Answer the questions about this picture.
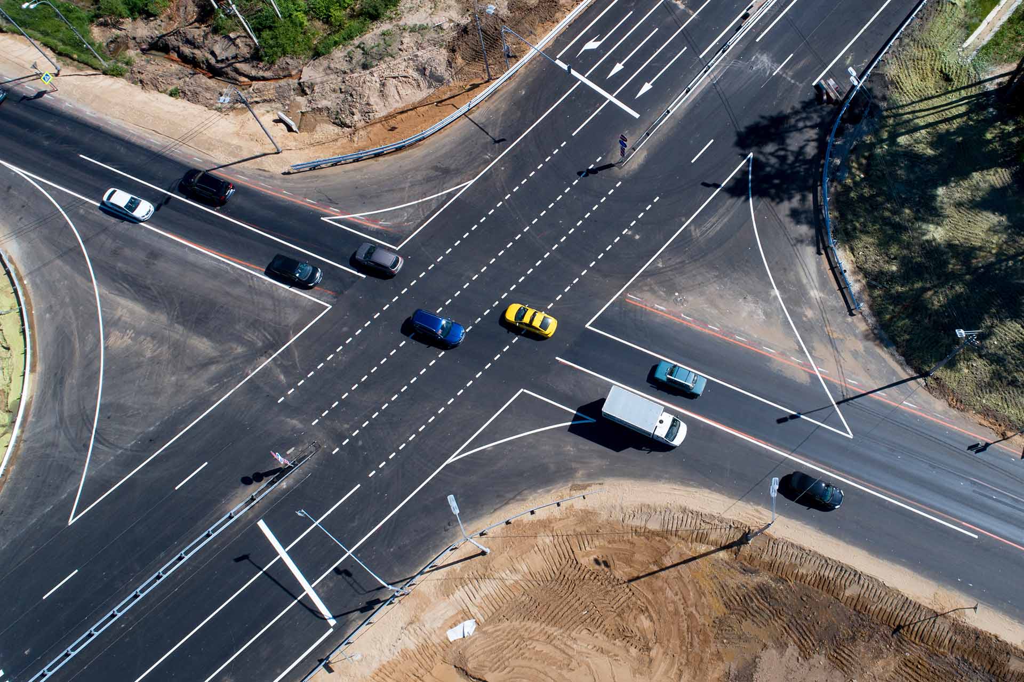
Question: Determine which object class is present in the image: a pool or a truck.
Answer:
truck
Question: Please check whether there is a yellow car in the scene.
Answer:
Yes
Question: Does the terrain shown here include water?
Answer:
No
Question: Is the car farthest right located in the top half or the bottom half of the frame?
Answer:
bottom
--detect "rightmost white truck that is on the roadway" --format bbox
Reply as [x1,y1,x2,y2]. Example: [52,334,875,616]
[600,385,688,452]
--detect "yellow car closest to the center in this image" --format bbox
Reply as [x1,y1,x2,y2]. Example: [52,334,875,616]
[504,303,558,336]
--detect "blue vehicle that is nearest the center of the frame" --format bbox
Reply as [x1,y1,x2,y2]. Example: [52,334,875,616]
[412,306,467,343]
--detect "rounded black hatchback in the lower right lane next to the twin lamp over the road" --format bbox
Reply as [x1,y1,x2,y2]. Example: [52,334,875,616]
[785,468,847,507]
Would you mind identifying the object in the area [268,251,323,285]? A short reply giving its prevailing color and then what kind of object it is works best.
black car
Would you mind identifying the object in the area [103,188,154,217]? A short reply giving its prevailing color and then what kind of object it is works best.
white car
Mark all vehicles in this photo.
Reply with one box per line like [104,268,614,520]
[356,246,407,277]
[504,303,558,336]
[183,171,237,204]
[268,251,323,285]
[600,385,688,452]
[103,188,154,217]
[785,468,847,507]
[412,306,467,343]
[652,362,707,398]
